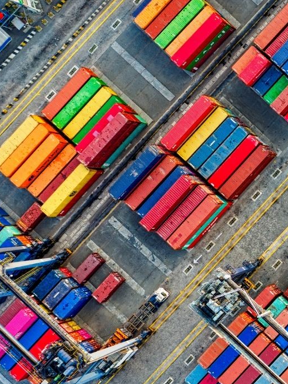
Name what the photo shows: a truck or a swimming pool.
truck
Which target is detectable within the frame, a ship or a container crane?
container crane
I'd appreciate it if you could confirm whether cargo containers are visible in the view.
Yes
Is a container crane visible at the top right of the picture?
No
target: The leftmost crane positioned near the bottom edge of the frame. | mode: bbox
[0,245,157,384]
